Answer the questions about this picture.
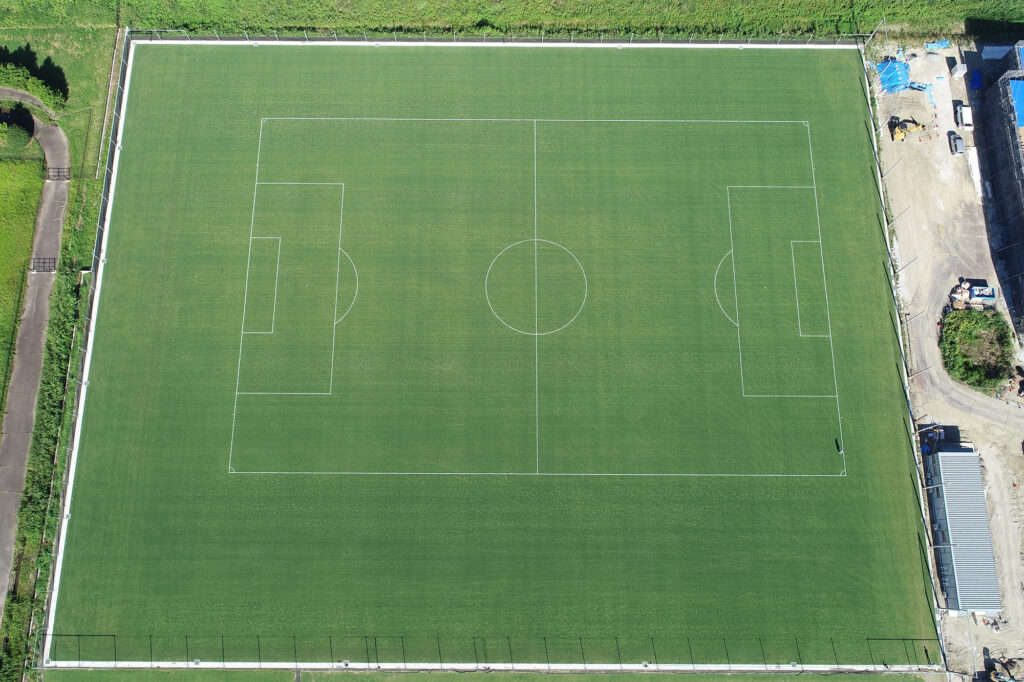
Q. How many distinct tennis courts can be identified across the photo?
0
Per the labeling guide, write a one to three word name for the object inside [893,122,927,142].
work vehicle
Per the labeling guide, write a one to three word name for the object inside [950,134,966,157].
car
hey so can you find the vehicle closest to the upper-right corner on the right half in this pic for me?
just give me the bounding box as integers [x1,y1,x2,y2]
[956,103,974,131]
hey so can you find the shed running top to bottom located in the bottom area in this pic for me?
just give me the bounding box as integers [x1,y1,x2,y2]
[928,452,1002,611]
